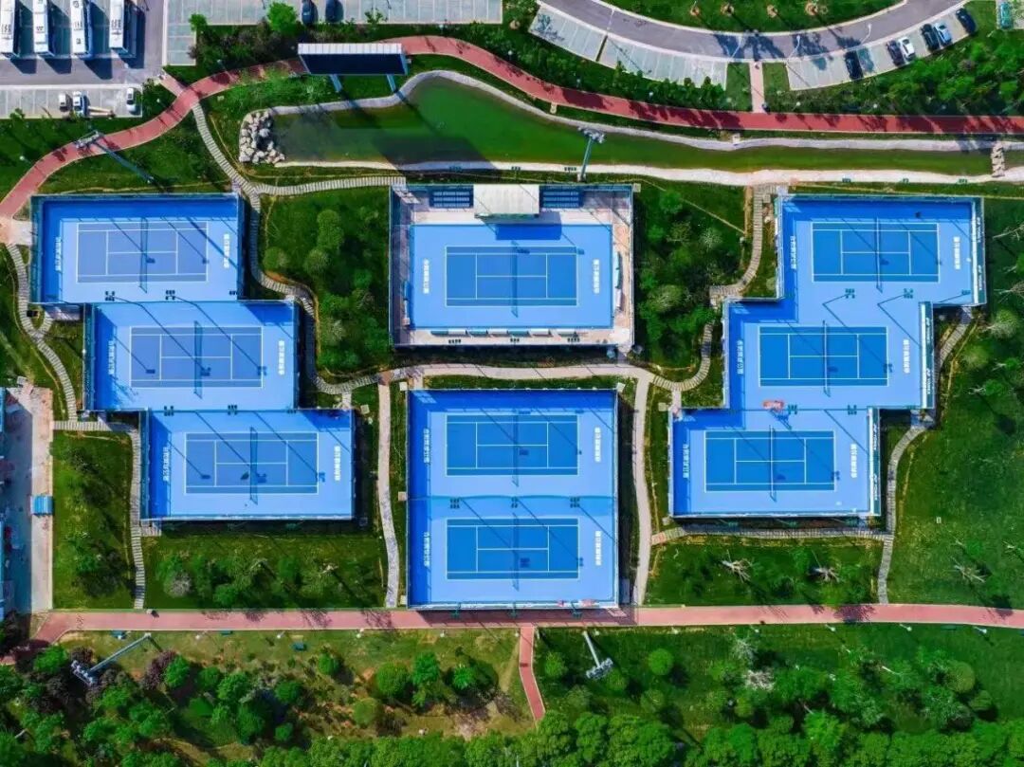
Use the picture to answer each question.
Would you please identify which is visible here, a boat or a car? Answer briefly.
car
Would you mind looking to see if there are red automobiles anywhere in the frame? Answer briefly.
No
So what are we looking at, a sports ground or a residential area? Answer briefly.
sports ground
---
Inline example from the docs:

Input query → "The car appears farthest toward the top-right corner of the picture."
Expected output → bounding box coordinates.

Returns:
[999,2,1013,27]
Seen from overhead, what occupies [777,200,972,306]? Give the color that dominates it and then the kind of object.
blue tennis court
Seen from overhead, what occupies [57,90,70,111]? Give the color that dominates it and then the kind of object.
white vehicle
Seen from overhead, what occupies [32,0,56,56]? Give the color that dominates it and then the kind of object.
white bus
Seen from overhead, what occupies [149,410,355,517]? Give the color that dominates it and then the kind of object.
blue tennis court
